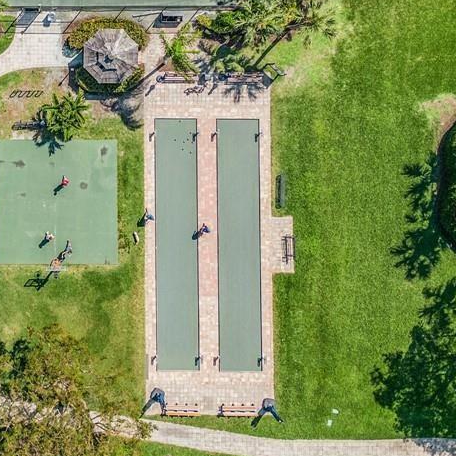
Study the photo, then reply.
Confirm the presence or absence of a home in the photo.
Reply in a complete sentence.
No, no home can be seen from above.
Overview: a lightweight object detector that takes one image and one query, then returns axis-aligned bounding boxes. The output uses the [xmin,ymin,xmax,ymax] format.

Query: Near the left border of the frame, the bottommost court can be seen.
[0,139,117,265]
